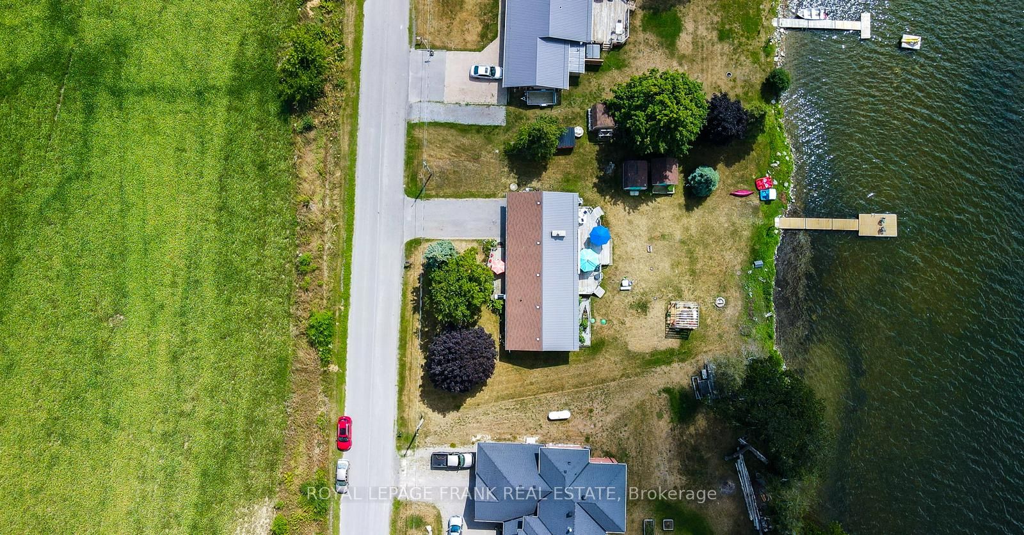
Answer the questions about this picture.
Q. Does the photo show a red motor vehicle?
Yes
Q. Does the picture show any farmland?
Yes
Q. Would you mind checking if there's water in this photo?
Yes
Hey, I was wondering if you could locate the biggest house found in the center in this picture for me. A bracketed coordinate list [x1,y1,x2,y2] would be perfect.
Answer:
[495,191,581,352]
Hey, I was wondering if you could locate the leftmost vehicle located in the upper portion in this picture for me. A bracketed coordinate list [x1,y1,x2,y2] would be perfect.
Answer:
[468,62,502,80]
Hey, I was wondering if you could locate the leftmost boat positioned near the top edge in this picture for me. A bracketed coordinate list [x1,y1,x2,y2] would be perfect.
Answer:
[797,6,829,18]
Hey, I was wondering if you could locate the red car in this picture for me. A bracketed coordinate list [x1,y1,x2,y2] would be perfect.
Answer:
[335,416,353,451]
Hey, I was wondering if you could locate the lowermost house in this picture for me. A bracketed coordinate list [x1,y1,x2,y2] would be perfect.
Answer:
[474,436,627,535]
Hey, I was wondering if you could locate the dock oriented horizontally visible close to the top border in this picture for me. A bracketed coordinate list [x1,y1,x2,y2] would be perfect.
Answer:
[772,12,871,39]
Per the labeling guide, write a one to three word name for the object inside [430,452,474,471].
vehicle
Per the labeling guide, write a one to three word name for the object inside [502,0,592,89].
house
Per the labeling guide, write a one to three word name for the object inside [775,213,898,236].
pier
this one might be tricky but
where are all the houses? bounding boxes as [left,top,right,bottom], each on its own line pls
[502,0,592,89]
[495,191,581,352]
[474,436,627,535]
